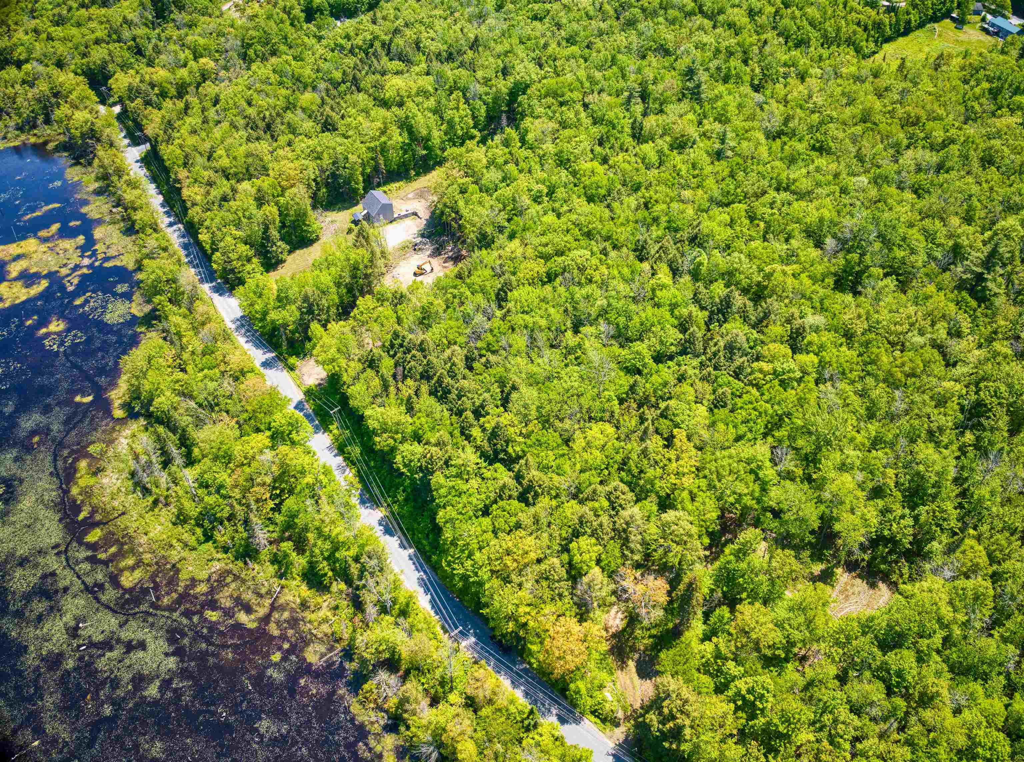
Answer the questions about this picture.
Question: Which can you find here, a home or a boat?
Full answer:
Of the two, only a home appears.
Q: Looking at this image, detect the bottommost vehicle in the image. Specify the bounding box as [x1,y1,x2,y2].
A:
[413,262,433,274]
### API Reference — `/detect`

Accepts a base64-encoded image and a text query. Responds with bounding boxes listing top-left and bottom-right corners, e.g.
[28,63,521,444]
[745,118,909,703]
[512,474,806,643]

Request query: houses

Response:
[360,189,395,227]
[985,15,1024,39]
